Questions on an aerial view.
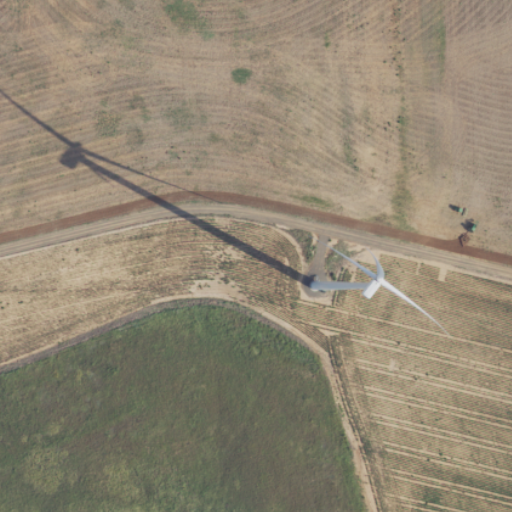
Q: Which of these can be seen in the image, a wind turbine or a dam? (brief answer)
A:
wind turbine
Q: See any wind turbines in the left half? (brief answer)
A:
No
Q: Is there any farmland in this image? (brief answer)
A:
Yes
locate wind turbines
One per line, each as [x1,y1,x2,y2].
[310,244,448,336]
